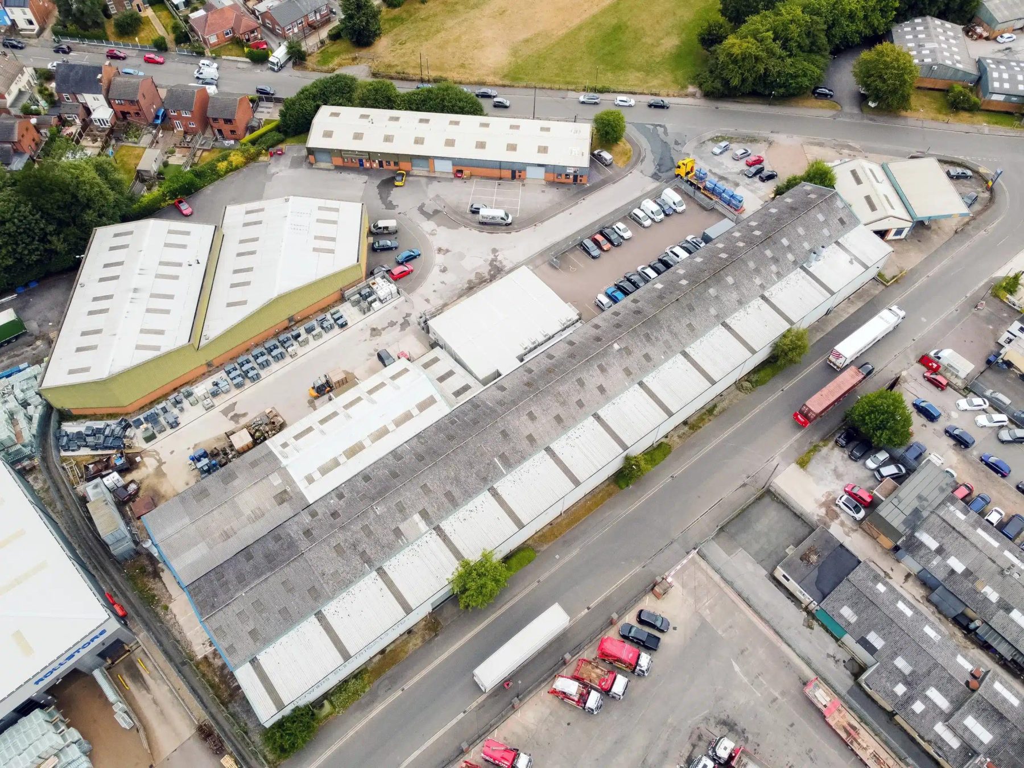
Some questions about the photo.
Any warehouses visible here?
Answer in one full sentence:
Yes, the picture does show a warehouse.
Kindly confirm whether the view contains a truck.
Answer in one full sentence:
Yes, the photo shows a truck.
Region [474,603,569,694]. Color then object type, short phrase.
white trailer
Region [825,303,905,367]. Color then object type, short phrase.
white truck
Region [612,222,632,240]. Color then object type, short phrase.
white car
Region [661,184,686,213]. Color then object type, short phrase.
white vehicle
